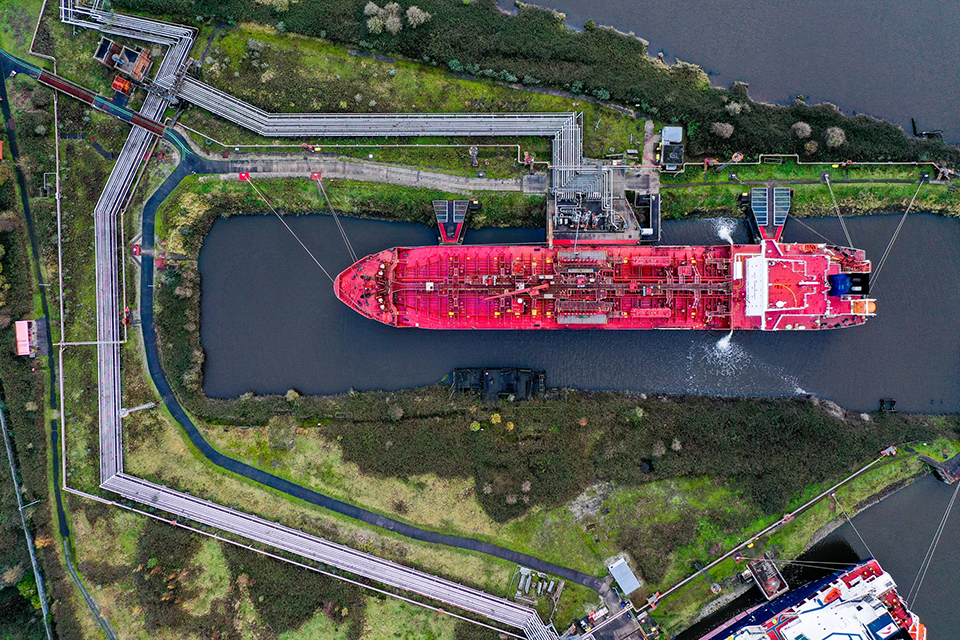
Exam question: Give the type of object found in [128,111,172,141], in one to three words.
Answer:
bridge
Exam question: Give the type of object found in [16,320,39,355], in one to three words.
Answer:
building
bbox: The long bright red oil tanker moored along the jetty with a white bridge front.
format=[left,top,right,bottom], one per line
[333,239,877,331]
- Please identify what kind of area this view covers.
port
